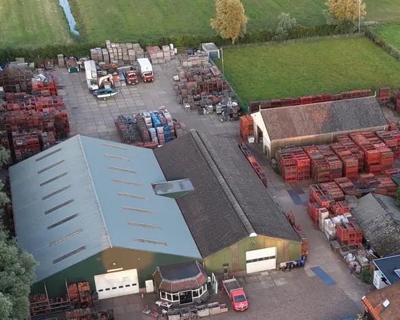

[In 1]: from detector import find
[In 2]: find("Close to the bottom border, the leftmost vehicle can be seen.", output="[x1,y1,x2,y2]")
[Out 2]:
[224,281,247,307]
